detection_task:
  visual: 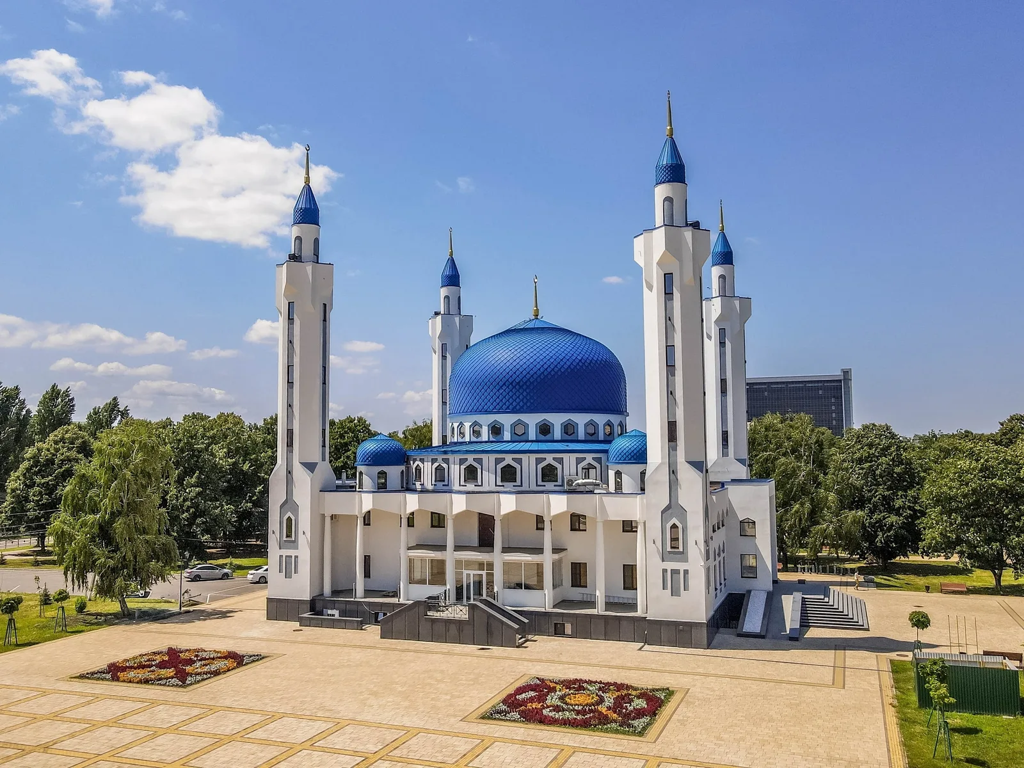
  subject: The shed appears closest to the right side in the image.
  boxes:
[908,651,1020,716]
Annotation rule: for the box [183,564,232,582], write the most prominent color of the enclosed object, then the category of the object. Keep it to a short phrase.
gray car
